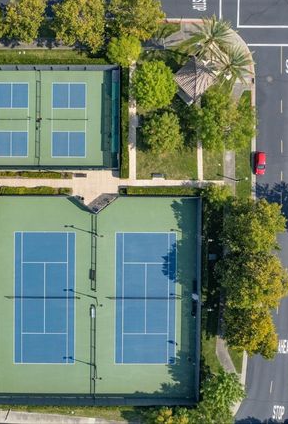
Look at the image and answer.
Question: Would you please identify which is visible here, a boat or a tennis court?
tennis court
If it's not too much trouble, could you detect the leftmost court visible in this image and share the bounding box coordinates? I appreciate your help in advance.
[0,70,41,168]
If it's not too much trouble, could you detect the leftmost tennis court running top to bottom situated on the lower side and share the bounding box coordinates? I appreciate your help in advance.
[0,194,94,399]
